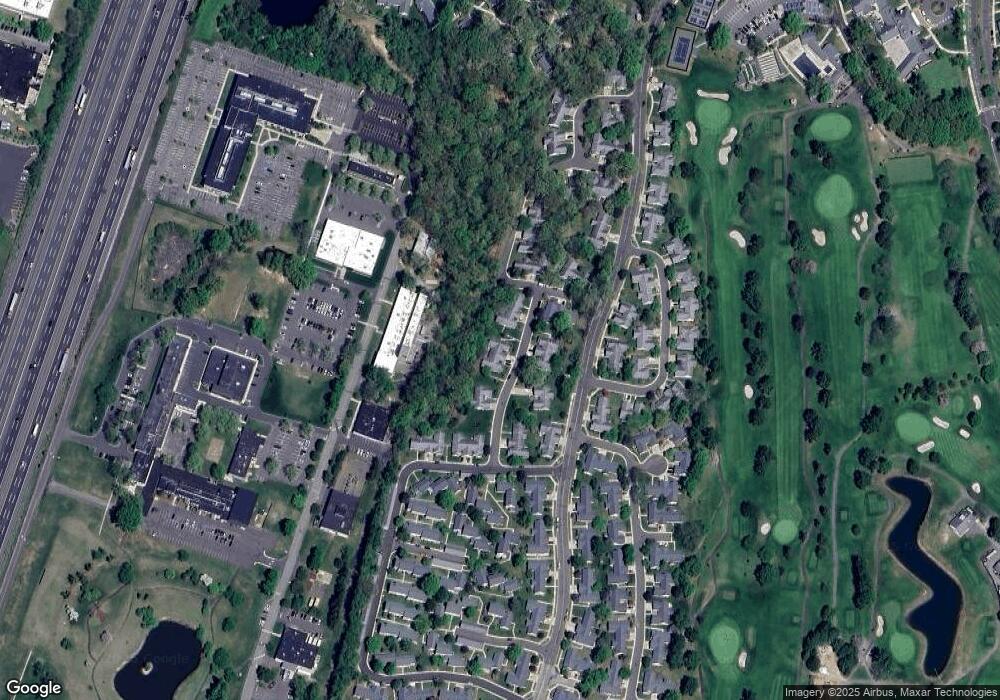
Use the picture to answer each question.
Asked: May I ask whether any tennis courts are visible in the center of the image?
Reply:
No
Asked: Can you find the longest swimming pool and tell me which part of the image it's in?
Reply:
top right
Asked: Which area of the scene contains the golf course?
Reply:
right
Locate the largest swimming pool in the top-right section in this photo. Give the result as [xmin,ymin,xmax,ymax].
[780,37,836,80]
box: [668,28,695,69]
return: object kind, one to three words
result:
tennis court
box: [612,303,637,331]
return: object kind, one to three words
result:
house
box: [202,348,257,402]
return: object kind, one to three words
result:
building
